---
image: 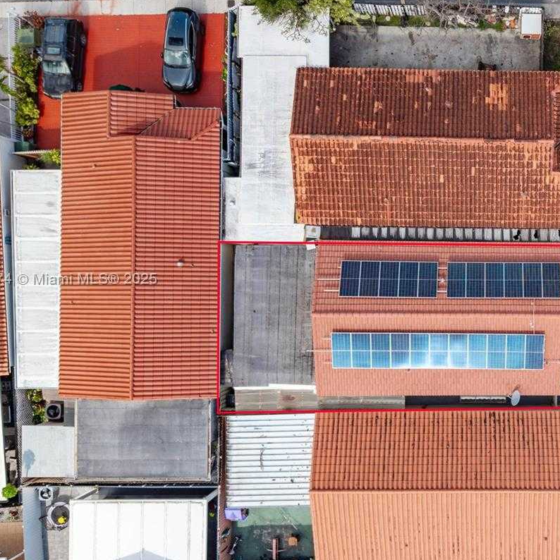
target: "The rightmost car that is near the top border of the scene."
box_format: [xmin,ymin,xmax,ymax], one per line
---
[160,8,206,94]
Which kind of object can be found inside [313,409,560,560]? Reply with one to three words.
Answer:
house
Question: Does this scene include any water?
No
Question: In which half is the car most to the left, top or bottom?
top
